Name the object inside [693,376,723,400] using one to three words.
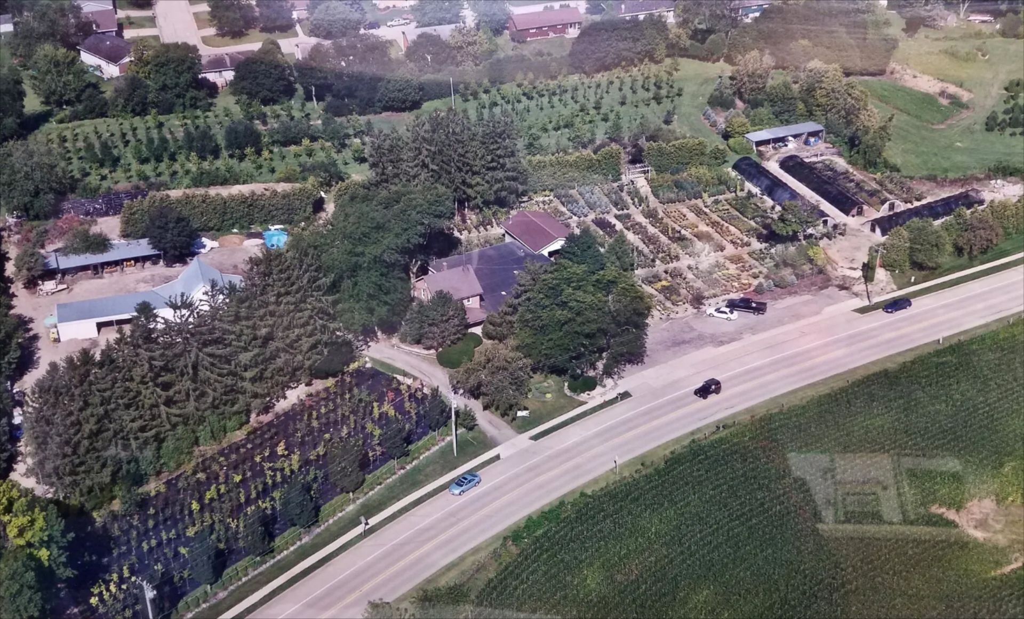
car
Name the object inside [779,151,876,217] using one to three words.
greenhouse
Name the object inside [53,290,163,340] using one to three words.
shed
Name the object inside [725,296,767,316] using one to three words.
vehicle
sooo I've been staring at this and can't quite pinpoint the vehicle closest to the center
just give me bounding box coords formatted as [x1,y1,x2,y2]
[447,470,484,496]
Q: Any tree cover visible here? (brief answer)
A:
Yes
